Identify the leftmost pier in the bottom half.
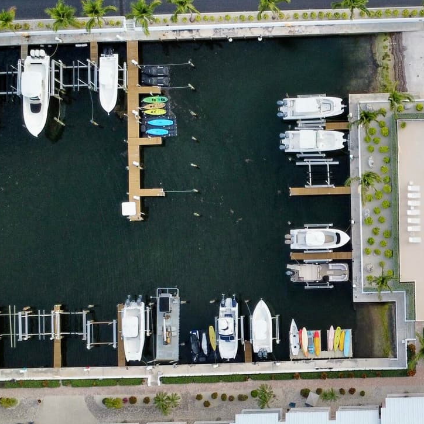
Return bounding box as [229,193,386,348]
[54,304,66,368]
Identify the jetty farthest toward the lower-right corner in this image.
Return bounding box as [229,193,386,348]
[289,328,354,359]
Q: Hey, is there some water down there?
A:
Yes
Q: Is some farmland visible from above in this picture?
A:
No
